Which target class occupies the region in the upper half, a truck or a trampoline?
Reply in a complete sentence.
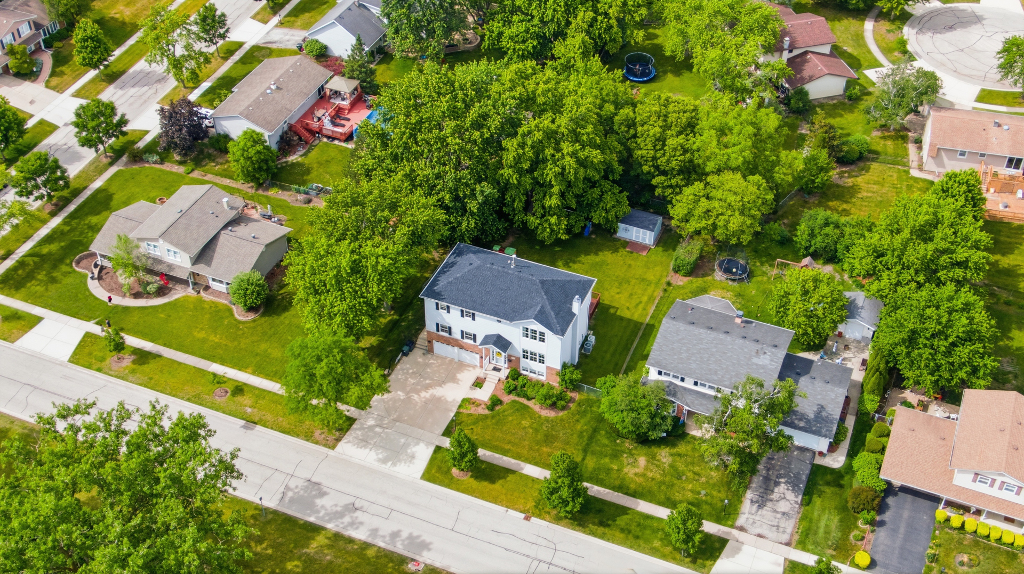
It is a trampoline that can be seen in the upper half.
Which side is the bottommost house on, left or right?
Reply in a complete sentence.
You can find the bottommost house on the right side of the picture.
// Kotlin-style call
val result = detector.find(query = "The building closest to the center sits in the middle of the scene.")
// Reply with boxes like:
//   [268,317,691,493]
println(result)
[417,241,606,390]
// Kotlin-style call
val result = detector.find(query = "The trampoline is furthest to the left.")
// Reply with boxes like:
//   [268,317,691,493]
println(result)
[624,51,655,80]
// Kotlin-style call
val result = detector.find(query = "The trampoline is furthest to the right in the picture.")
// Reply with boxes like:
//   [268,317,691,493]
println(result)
[714,246,750,288]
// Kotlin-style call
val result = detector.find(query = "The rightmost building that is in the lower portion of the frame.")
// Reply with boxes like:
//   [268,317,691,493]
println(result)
[879,389,1024,535]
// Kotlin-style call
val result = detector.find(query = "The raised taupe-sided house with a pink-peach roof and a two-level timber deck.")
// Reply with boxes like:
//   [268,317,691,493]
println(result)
[921,105,1024,219]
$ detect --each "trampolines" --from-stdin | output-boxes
[624,51,655,80]
[714,246,750,288]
